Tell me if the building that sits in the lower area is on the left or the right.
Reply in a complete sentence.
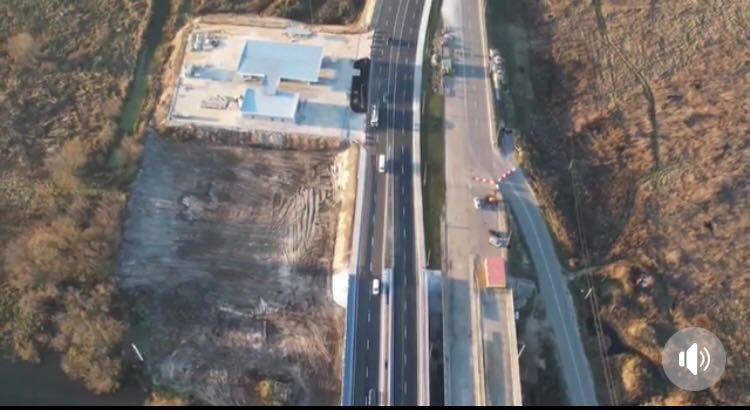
The building that sits in the lower area is on the right side of the image.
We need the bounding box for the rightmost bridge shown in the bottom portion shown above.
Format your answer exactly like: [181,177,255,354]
[439,283,521,410]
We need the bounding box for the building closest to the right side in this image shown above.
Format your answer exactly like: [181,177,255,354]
[480,259,506,291]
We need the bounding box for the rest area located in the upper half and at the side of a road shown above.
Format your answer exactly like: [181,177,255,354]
[168,29,371,142]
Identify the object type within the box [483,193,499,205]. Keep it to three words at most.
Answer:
vehicle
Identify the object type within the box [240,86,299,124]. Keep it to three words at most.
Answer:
building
